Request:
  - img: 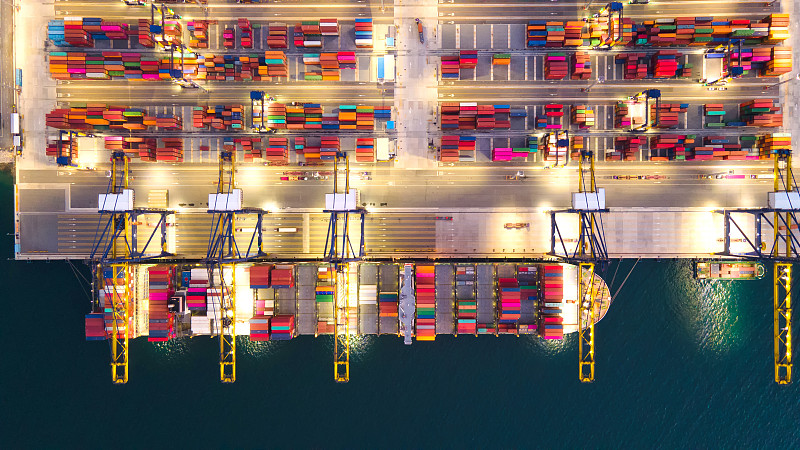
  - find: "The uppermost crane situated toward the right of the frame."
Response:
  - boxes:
[594,0,623,54]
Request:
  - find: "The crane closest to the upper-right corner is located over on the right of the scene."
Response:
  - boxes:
[706,39,743,88]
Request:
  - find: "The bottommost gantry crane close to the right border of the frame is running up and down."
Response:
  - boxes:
[712,151,800,384]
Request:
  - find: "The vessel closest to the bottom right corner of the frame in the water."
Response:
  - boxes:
[694,261,766,280]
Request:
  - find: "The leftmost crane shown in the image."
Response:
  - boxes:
[57,129,94,172]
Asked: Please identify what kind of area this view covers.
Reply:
port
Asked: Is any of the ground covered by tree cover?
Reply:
No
